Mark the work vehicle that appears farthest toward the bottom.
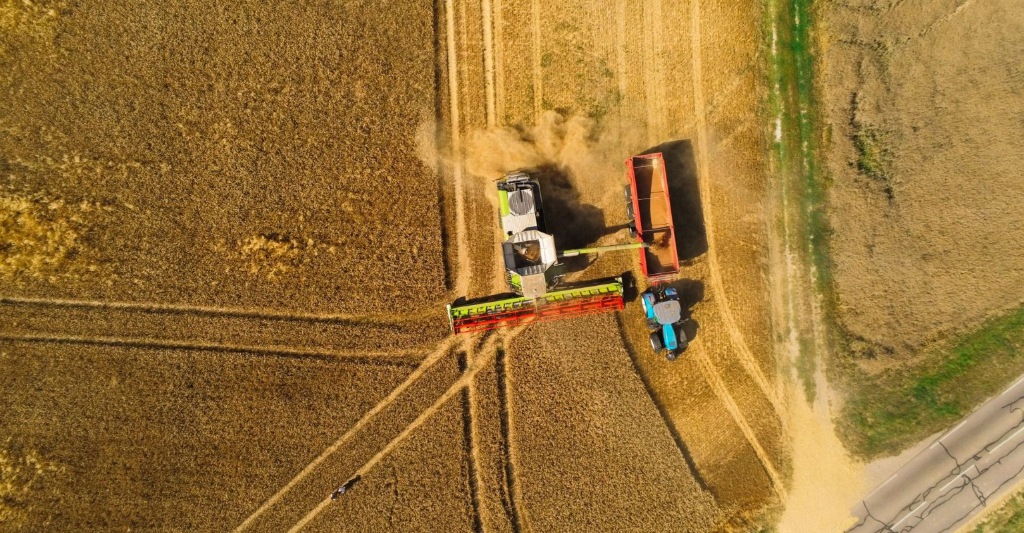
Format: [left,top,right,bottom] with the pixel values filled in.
[638,282,689,359]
